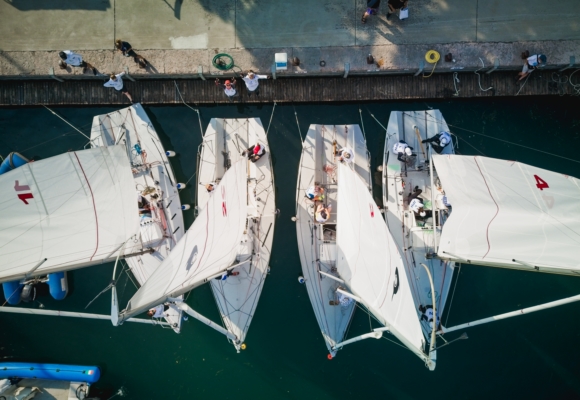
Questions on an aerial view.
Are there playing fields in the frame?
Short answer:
No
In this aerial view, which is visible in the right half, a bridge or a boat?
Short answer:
boat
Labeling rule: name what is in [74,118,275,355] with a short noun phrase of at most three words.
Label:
boat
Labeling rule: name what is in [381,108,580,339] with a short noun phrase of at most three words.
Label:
boat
